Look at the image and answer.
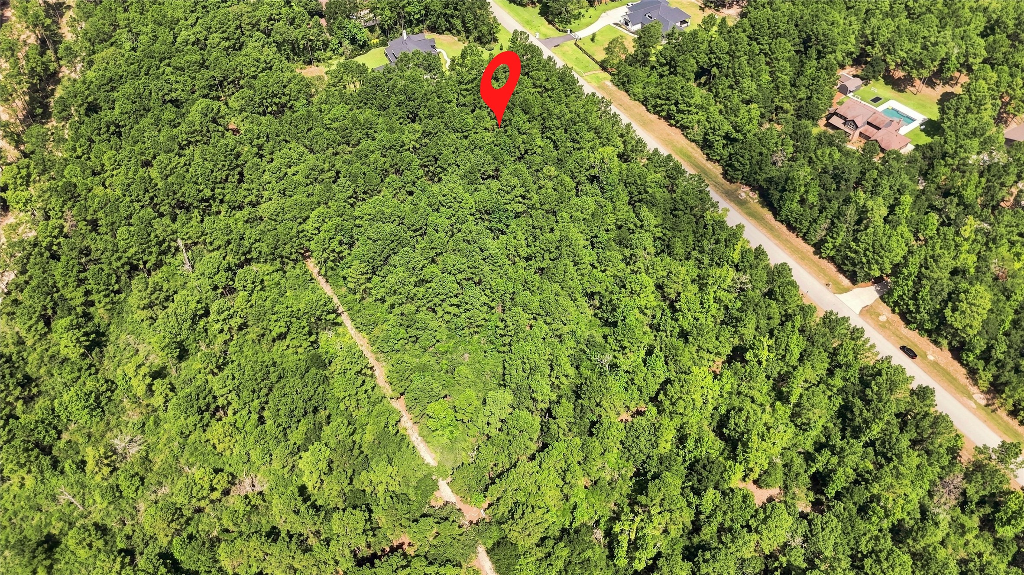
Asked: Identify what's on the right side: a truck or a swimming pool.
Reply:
swimming pool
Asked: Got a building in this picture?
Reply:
Yes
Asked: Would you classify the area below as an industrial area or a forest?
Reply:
forest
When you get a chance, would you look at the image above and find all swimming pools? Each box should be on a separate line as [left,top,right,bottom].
[848,94,928,131]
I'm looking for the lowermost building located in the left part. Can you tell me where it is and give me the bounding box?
[372,30,444,76]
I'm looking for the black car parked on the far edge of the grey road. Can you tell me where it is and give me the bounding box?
[900,344,920,361]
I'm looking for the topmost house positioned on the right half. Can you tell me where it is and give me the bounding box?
[621,0,692,37]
